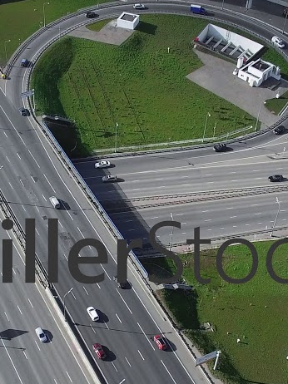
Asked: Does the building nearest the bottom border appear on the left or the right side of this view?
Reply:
right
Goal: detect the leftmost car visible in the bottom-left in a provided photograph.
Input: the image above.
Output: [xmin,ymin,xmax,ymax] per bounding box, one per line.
[36,326,50,344]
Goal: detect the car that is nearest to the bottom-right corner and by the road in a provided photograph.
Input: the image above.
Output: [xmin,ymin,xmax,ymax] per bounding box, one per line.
[153,333,169,352]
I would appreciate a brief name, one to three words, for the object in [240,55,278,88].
building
